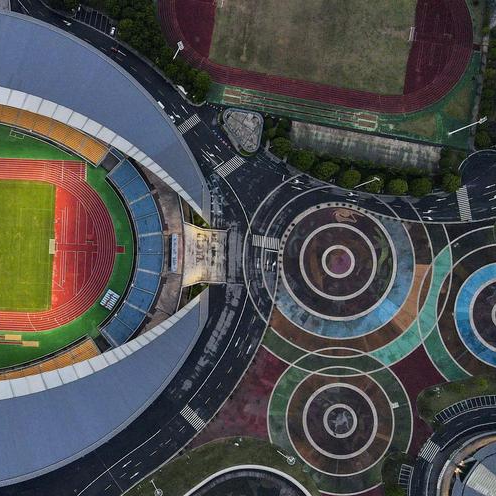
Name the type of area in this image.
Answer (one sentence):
This looks like a sports ground.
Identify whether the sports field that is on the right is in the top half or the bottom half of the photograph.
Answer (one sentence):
The sports field that is on the right is in the top half of the image.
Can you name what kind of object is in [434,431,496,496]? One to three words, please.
building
